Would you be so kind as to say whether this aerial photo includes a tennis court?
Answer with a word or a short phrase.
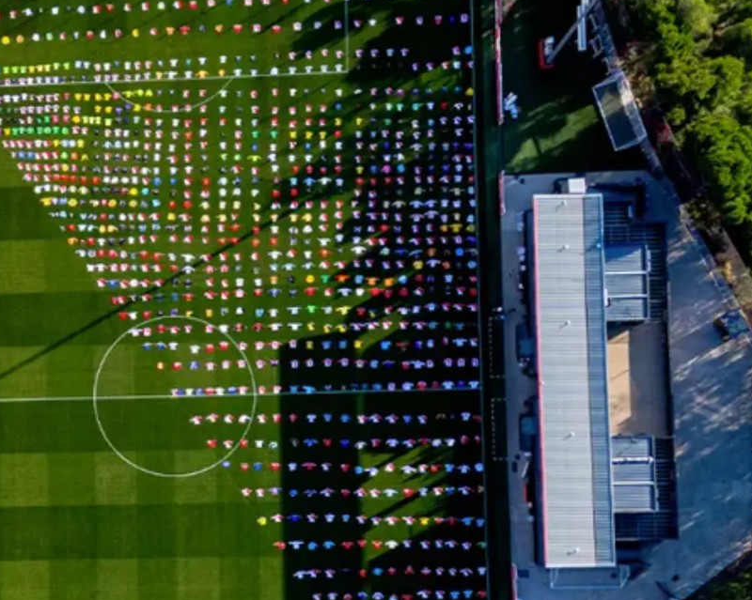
No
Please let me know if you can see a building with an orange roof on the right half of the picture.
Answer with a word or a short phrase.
No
